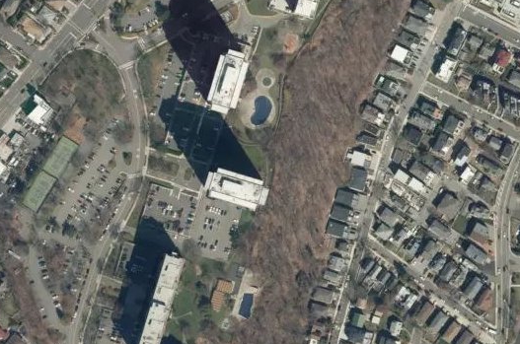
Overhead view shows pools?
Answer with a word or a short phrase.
Yes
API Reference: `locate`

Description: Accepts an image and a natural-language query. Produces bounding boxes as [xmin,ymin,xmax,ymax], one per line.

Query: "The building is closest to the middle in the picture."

[205,169,271,208]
